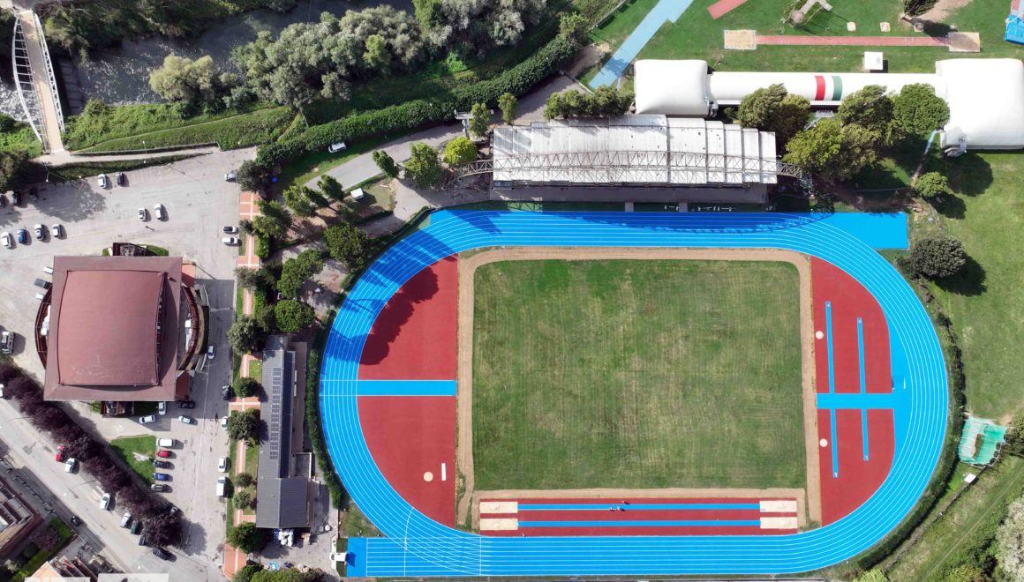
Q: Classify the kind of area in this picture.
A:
sports ground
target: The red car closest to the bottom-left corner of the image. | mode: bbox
[54,445,66,462]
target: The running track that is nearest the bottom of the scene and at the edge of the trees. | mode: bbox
[319,209,951,579]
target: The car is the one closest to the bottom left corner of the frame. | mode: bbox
[69,515,83,528]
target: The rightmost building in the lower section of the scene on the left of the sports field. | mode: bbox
[256,336,315,528]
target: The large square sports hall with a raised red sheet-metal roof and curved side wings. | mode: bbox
[34,243,212,415]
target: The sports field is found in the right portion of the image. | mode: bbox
[473,259,806,491]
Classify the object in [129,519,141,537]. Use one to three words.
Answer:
vehicle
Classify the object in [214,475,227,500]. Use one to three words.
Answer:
vehicle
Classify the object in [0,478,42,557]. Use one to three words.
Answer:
building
